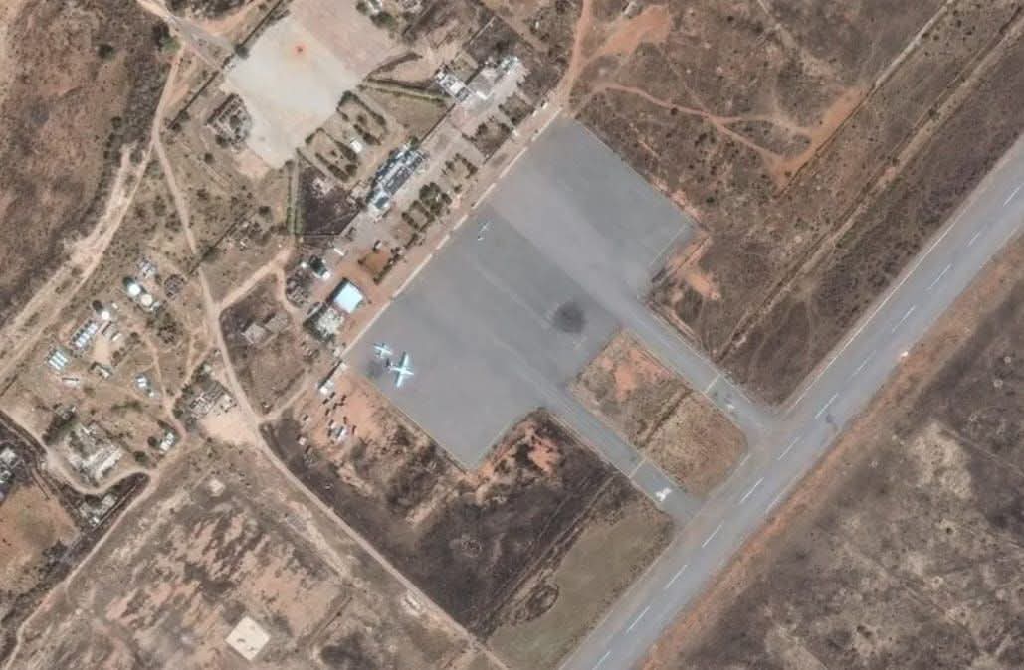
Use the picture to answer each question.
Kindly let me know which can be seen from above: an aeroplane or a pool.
aeroplane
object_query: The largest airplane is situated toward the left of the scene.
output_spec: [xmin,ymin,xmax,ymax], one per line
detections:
[388,354,414,387]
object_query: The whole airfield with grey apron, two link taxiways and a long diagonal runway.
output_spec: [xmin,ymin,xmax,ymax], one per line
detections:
[344,112,1024,670]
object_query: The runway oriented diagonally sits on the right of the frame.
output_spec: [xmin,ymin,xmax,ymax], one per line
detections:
[559,144,1024,670]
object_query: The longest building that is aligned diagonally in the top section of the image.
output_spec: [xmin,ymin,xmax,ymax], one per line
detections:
[369,145,427,213]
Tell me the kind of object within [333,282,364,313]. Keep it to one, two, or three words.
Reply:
hangar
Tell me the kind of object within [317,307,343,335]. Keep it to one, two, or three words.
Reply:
building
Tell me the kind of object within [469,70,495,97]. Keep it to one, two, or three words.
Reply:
building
